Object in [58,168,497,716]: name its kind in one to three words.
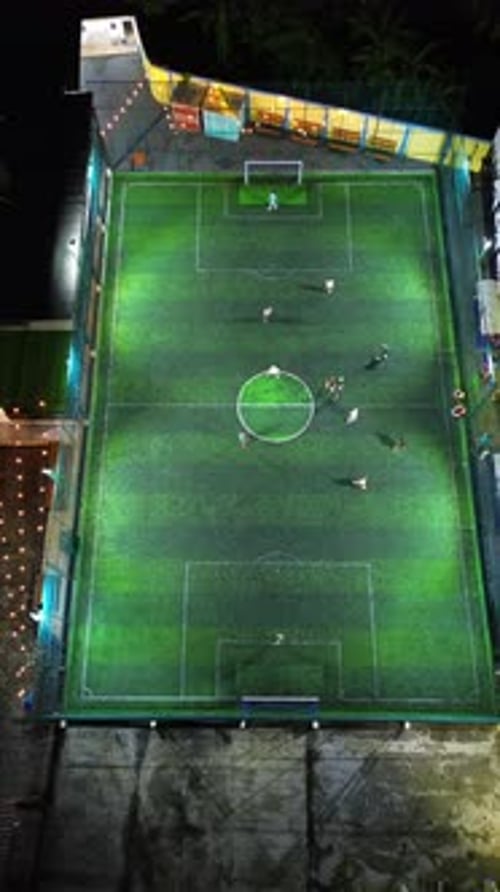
soccer field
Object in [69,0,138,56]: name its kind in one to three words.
house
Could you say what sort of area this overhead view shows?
sports ground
